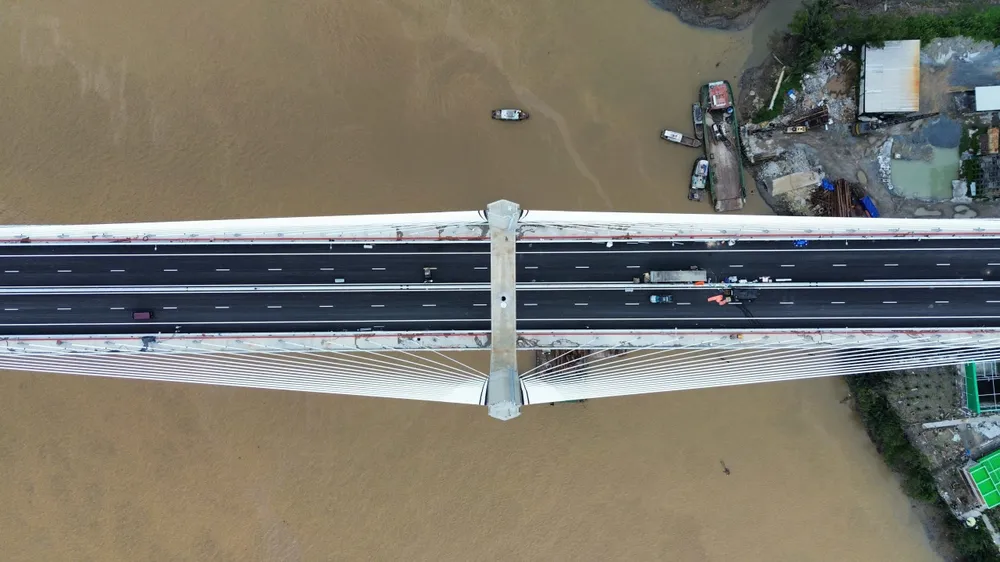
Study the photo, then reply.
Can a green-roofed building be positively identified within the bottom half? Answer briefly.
Yes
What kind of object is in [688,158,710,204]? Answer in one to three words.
boat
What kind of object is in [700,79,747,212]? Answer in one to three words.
ship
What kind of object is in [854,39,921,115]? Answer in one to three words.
building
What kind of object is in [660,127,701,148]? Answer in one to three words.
boat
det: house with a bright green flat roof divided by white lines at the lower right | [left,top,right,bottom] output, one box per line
[954,448,1000,510]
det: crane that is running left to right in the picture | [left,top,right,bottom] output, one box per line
[853,109,951,137]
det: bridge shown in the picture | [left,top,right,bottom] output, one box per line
[0,190,1000,421]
